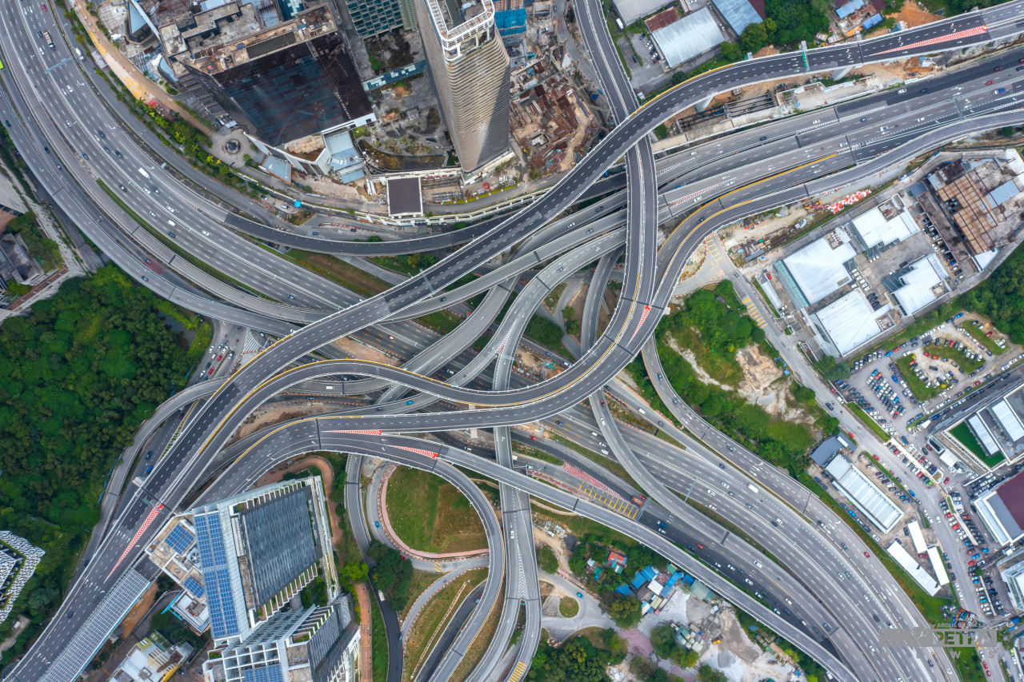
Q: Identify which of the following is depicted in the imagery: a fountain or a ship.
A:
fountain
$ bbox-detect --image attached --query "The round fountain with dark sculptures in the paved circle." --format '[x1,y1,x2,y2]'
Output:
[213,128,255,166]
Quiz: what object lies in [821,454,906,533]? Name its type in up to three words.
shed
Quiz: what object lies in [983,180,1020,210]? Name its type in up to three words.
shed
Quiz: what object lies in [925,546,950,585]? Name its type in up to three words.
building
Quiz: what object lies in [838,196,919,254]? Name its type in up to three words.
building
